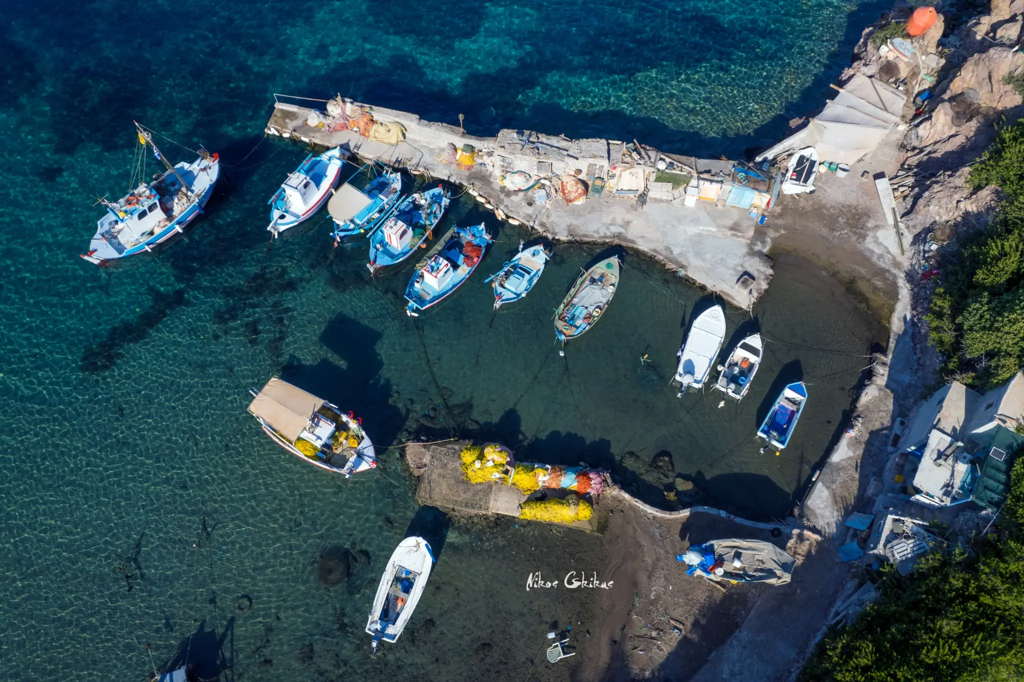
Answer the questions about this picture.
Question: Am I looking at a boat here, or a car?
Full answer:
It is a boat that can be seen here.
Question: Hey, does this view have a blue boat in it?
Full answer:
Yes, I can see a blue boat in this picture.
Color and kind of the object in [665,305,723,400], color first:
white boat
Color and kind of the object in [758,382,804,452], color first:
blue boat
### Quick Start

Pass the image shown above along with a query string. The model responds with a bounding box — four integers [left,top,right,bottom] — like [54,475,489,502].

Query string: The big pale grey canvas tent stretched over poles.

[757,72,907,167]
